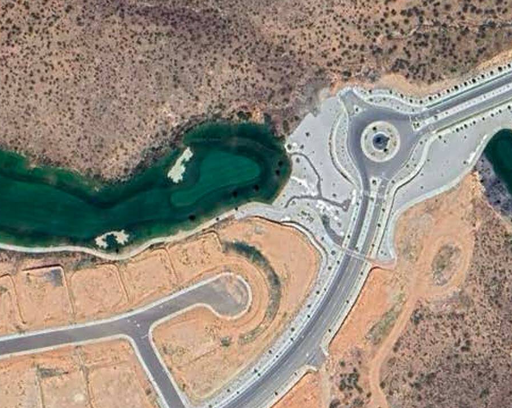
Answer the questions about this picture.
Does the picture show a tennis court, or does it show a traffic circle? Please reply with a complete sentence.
There is a traffic circle in the scene.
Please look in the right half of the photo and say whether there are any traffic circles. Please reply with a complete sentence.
Yes, you'll find a traffic circle in the right half of the photo.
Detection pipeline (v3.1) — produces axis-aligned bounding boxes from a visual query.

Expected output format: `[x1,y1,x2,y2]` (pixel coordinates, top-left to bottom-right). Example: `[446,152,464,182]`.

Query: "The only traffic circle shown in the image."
[340,89,434,192]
